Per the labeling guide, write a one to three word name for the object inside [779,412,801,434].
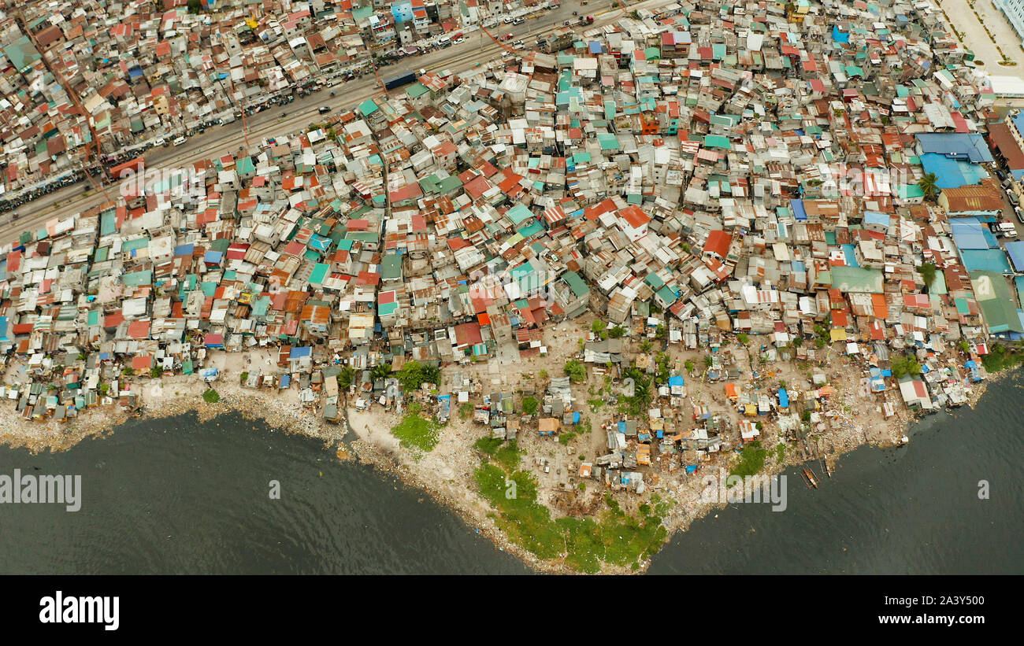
shed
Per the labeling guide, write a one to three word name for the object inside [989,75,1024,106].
building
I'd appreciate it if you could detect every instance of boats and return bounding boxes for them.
[818,454,837,476]
[799,468,821,488]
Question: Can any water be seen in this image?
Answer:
Yes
